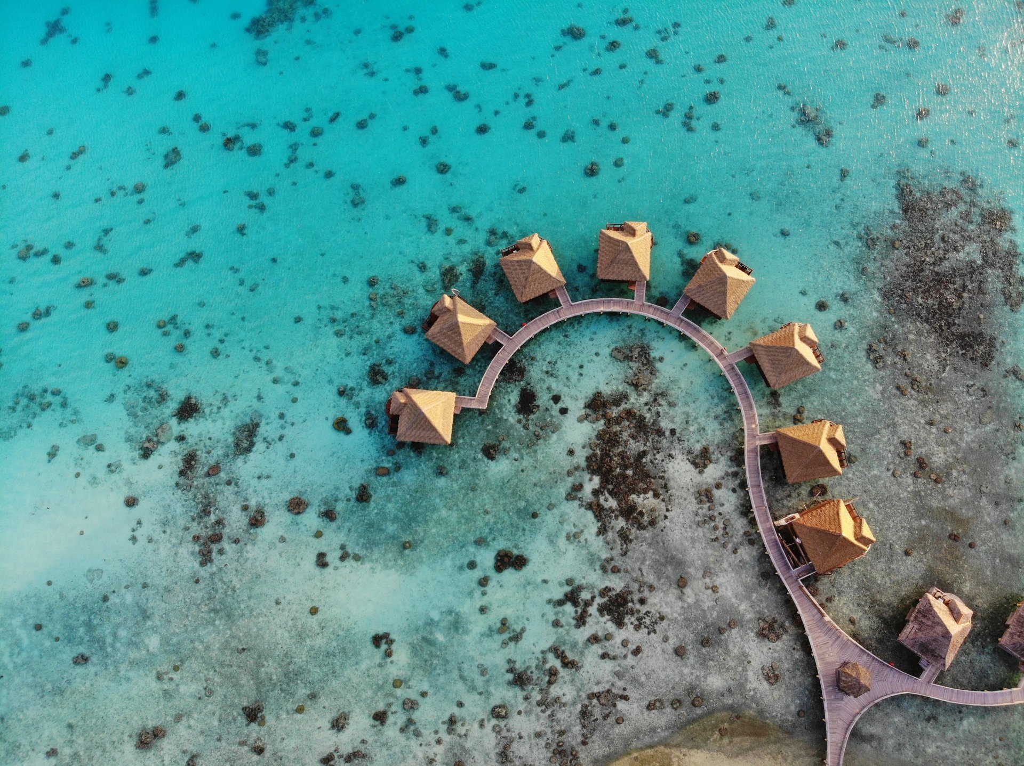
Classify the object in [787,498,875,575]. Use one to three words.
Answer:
house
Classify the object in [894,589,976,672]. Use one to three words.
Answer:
house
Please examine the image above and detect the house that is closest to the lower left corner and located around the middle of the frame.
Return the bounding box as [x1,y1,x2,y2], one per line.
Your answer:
[389,386,465,444]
